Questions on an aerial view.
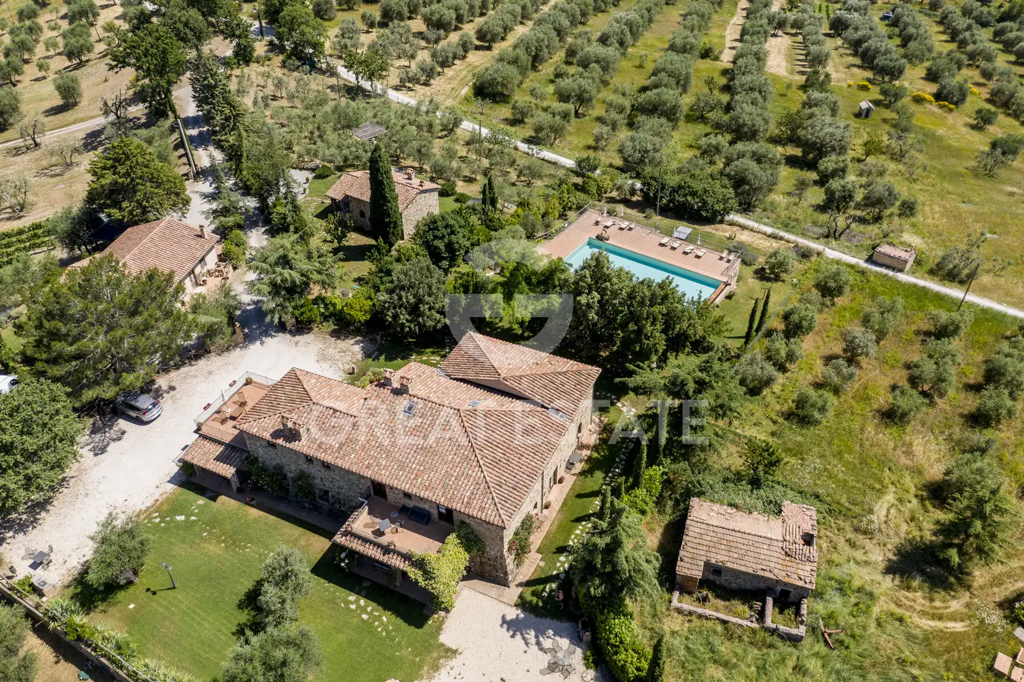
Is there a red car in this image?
No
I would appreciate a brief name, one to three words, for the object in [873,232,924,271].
shed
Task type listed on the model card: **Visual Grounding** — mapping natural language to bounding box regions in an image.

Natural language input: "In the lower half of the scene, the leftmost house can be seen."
[182,329,604,605]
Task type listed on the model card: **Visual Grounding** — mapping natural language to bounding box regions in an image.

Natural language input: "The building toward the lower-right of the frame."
[675,494,820,605]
